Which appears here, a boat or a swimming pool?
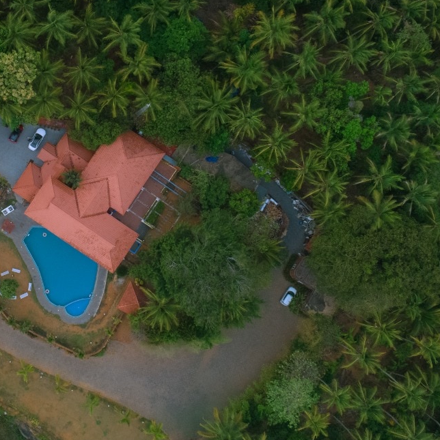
swimming pool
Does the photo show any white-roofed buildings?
No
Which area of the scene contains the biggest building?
left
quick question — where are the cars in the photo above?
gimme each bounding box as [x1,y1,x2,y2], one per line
[6,123,25,144]
[28,127,45,151]
[280,286,296,307]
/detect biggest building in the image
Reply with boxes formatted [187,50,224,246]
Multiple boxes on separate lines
[12,127,166,273]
